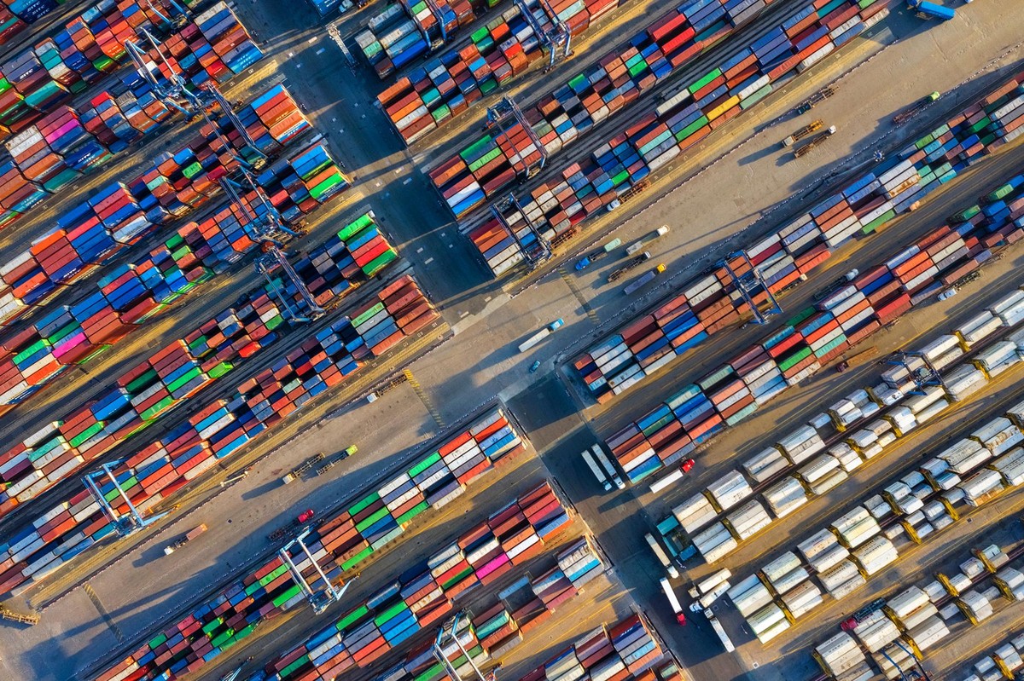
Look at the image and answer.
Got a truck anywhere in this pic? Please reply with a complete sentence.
Yes, there's a truck here.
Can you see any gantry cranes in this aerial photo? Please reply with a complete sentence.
Yes, a gantry crane is visible in the scene.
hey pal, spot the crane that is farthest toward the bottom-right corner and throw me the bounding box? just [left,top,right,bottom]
[862,636,932,681]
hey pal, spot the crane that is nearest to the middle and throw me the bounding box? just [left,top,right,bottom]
[488,188,556,277]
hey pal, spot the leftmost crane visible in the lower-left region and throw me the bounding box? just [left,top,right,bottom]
[81,449,180,541]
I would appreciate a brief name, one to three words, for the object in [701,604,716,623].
vehicle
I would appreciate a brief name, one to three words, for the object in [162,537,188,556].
vehicle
